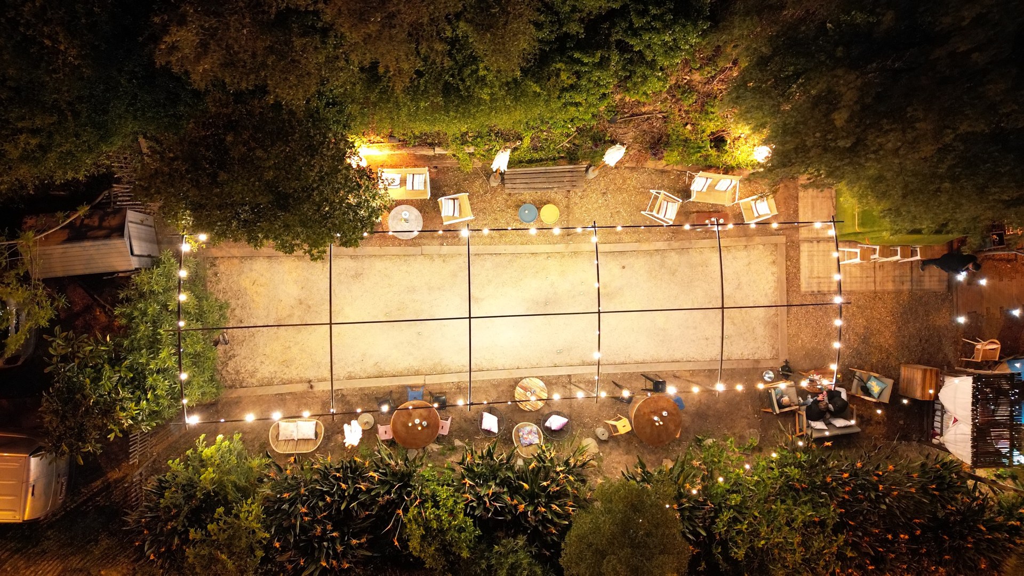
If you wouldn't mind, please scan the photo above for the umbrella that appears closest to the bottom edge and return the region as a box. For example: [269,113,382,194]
[348,413,374,450]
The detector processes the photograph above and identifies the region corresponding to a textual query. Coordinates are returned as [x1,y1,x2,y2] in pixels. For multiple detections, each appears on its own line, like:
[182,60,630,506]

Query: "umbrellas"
[490,140,518,187]
[348,413,374,450]
[586,140,627,177]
